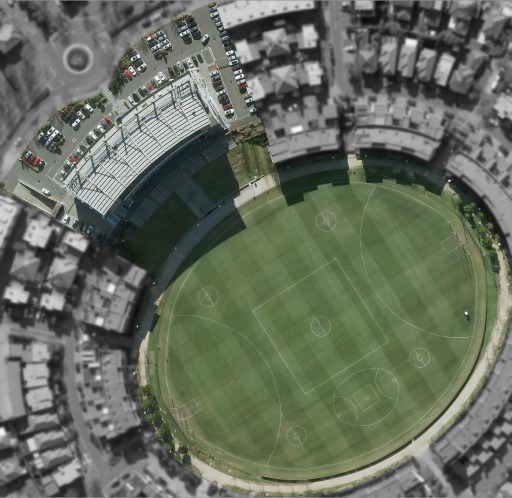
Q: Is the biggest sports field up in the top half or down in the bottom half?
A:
bottom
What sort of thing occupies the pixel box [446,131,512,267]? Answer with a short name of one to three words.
building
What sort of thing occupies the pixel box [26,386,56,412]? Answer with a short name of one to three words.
house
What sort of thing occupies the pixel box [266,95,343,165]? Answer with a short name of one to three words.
building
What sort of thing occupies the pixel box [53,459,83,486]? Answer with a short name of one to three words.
house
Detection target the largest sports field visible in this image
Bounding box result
[146,170,500,485]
